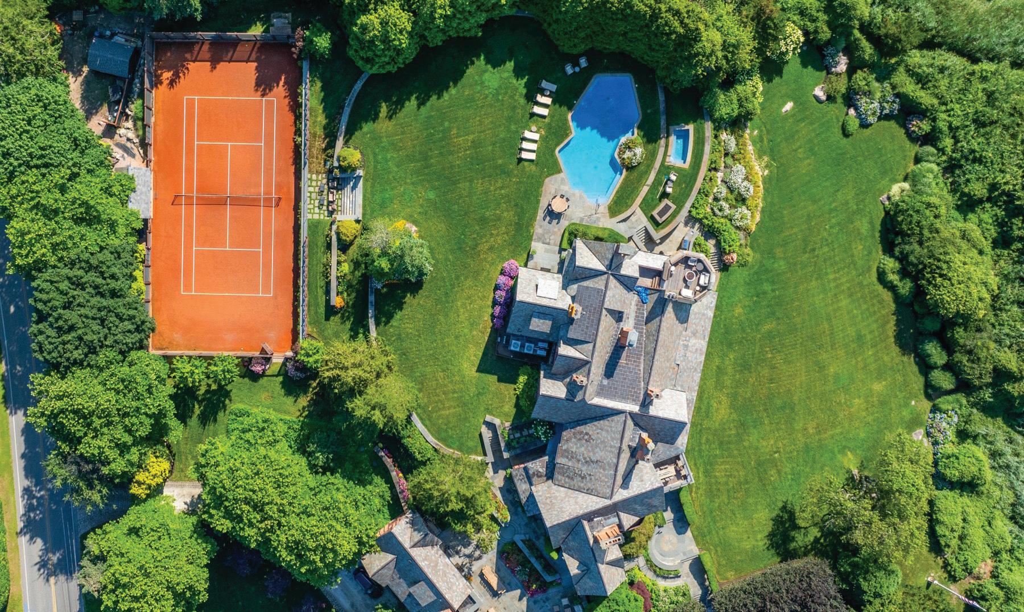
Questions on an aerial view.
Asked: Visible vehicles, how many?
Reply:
one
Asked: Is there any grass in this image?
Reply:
Yes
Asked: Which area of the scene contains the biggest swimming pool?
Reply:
top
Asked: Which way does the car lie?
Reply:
diagonally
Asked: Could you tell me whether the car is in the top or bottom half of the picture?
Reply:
bottom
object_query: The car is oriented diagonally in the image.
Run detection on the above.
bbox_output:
[348,566,384,605]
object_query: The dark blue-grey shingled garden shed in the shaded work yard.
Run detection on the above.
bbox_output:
[88,37,147,81]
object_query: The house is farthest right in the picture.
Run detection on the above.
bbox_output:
[495,240,717,596]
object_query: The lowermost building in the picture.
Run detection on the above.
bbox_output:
[361,503,484,612]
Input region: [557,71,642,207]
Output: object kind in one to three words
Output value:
swimming pool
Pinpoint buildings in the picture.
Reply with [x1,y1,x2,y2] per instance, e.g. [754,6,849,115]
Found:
[88,37,147,81]
[361,503,484,612]
[495,240,717,596]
